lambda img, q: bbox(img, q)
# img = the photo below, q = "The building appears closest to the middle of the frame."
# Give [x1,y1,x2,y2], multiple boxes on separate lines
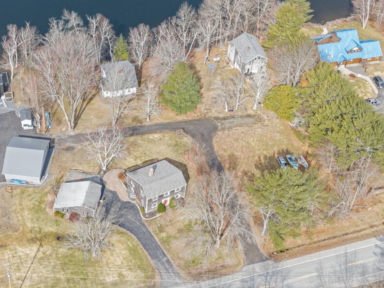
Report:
[125,159,187,212]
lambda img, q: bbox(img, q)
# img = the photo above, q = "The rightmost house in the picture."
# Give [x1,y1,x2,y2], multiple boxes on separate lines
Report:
[306,26,384,67]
